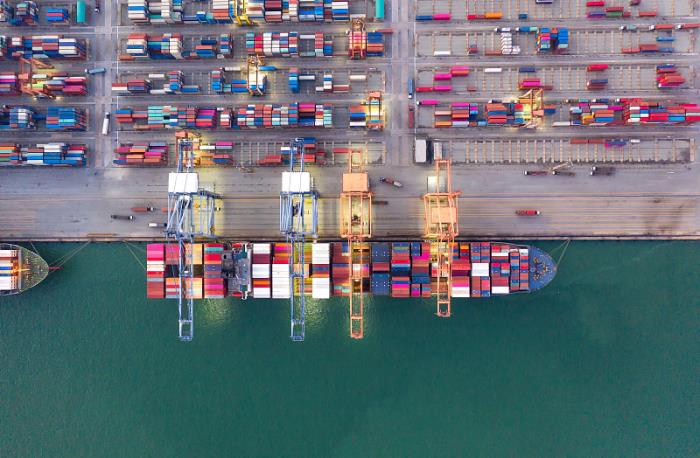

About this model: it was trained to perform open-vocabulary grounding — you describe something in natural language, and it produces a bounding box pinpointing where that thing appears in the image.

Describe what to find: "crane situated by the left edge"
[19,57,51,98]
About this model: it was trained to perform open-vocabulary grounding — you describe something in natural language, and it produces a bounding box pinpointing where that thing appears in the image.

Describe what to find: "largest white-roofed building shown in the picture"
[415,139,430,163]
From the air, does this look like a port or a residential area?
port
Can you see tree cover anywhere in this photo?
No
